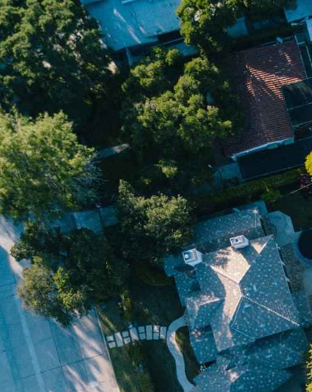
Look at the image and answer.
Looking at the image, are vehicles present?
No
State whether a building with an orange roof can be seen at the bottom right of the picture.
No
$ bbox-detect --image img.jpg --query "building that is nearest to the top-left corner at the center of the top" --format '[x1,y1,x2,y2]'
[78,0,188,56]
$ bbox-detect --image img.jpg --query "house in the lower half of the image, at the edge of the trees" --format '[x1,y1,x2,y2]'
[164,208,308,392]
